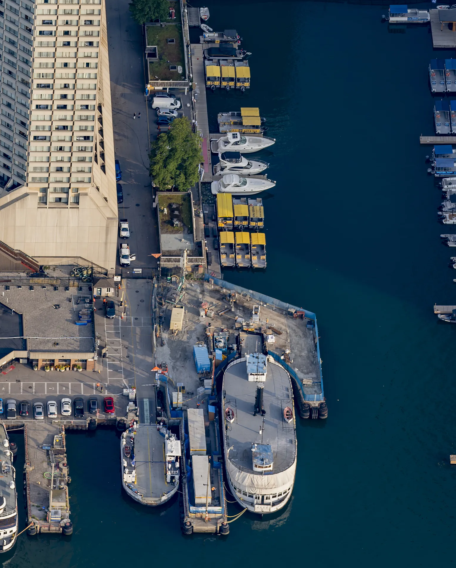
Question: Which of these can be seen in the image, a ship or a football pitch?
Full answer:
Of the two, only a ship appears.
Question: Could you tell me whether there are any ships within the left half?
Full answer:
Yes, there is a ship within the left half.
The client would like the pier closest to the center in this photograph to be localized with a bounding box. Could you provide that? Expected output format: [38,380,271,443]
[203,205,221,273]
